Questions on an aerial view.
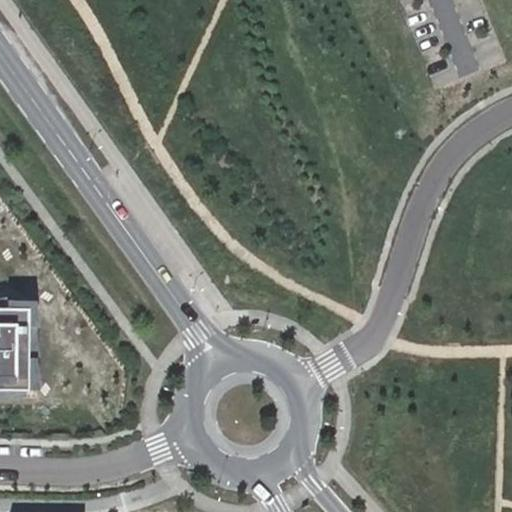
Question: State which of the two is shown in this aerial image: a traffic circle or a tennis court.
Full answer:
Of the two, only a traffic circle appears.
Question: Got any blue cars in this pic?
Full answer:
No, the picture doesn't show any blue car.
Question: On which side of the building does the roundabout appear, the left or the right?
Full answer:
In the image, the roundabout sits on the right side of the building.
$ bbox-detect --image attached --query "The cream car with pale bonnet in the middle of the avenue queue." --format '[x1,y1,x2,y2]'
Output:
[156,266,172,284]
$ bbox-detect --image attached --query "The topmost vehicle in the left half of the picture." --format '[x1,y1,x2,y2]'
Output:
[112,201,128,220]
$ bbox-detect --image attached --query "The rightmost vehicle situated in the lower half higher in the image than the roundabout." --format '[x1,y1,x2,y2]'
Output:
[180,302,198,322]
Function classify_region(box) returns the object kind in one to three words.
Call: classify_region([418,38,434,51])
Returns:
vehicle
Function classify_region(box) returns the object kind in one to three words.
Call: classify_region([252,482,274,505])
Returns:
vehicle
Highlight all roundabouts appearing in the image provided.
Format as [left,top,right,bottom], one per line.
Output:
[168,338,324,494]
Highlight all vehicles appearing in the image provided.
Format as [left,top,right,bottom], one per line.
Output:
[406,14,426,26]
[20,447,44,458]
[252,482,274,505]
[416,24,436,36]
[156,266,172,284]
[418,38,434,51]
[0,448,10,456]
[426,61,446,74]
[180,302,198,322]
[112,201,128,220]
[0,470,18,480]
